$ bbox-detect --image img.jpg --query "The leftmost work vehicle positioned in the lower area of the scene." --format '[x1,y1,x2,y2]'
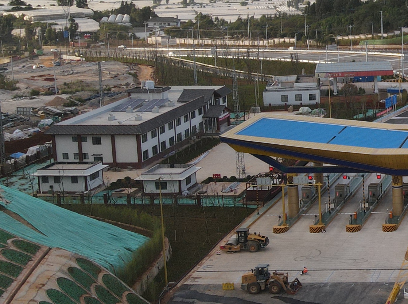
[212,226,276,254]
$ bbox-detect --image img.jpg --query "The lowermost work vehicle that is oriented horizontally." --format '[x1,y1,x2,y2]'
[238,261,314,294]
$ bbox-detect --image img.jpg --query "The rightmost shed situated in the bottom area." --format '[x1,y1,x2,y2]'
[228,171,292,206]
